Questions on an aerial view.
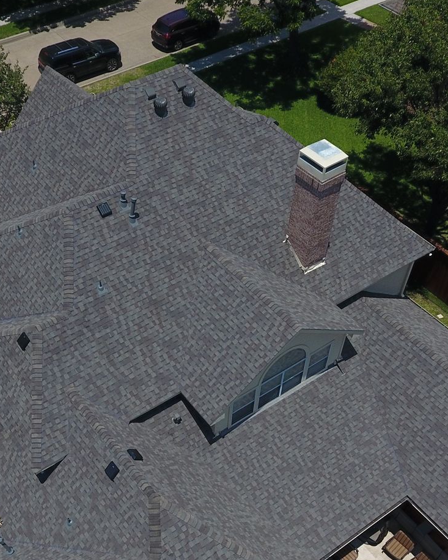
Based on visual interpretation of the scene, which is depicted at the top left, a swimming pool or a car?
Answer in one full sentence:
Visible at the top left is a car.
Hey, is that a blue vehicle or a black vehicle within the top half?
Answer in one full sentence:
The one visible within the top half is a black vehicle.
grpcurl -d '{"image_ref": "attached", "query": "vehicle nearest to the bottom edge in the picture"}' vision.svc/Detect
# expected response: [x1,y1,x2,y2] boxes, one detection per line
[40,38,123,84]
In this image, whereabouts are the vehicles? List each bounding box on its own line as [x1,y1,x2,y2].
[159,6,226,48]
[40,38,123,84]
